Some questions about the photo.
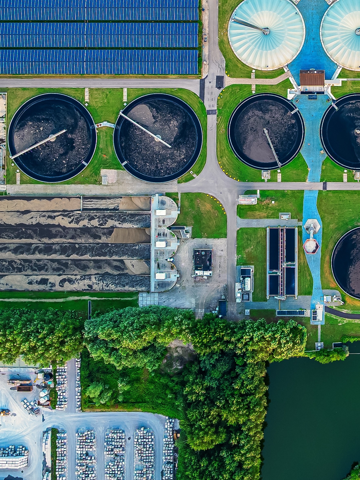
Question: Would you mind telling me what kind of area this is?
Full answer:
It's an industrial area.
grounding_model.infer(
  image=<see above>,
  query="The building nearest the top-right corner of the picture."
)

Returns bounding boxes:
[285,65,347,100]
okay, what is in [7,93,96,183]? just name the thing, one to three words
storage tank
